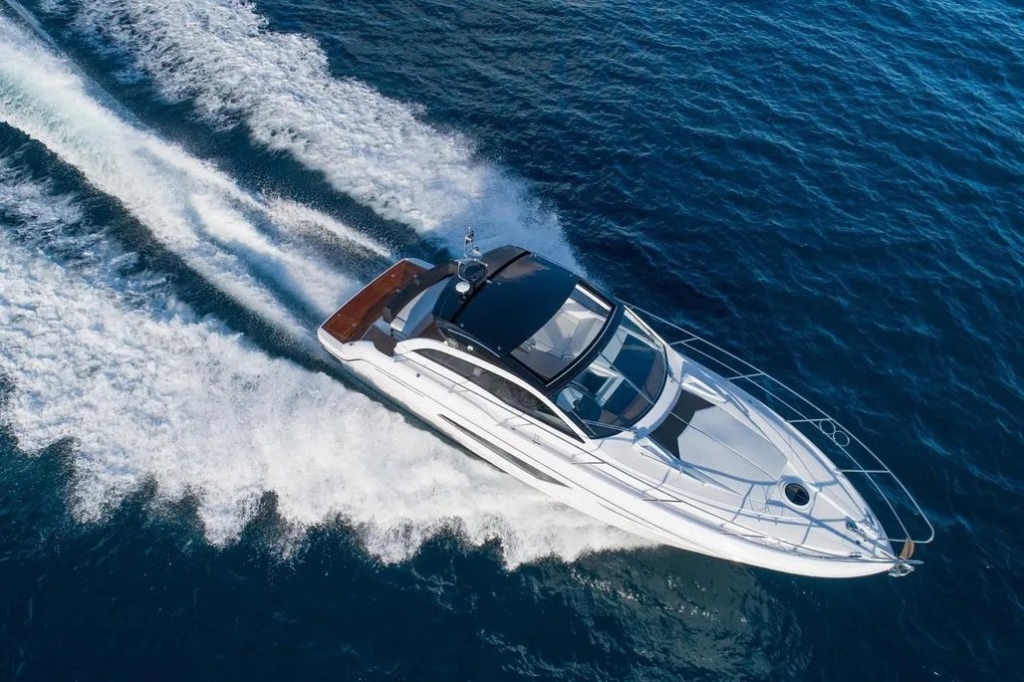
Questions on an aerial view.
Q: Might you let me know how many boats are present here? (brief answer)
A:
one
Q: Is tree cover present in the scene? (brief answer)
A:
No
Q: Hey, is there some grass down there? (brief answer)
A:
No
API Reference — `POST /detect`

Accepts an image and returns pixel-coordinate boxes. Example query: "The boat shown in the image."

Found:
[318,222,935,575]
